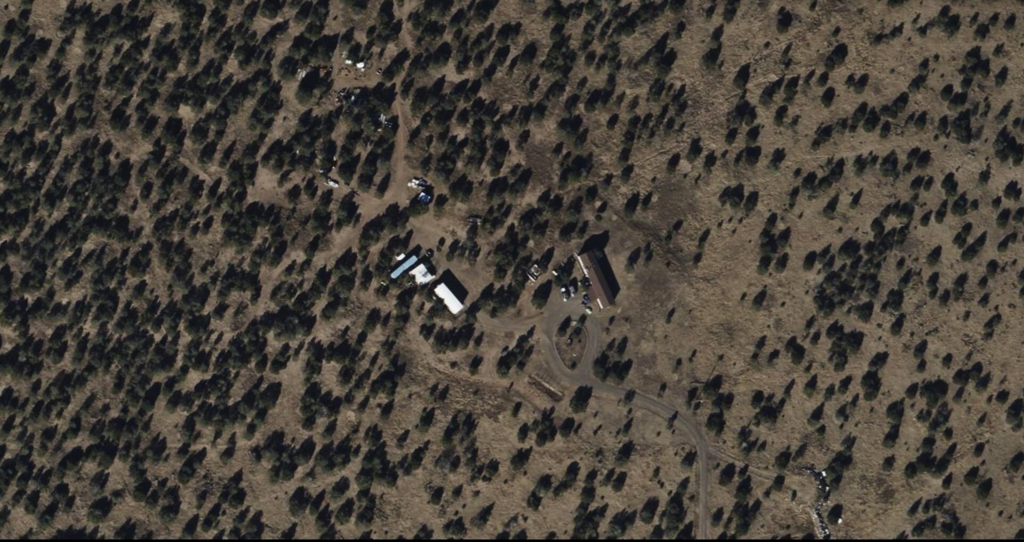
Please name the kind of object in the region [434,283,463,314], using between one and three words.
shed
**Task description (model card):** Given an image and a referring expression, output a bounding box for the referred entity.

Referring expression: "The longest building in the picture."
[575,249,617,310]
